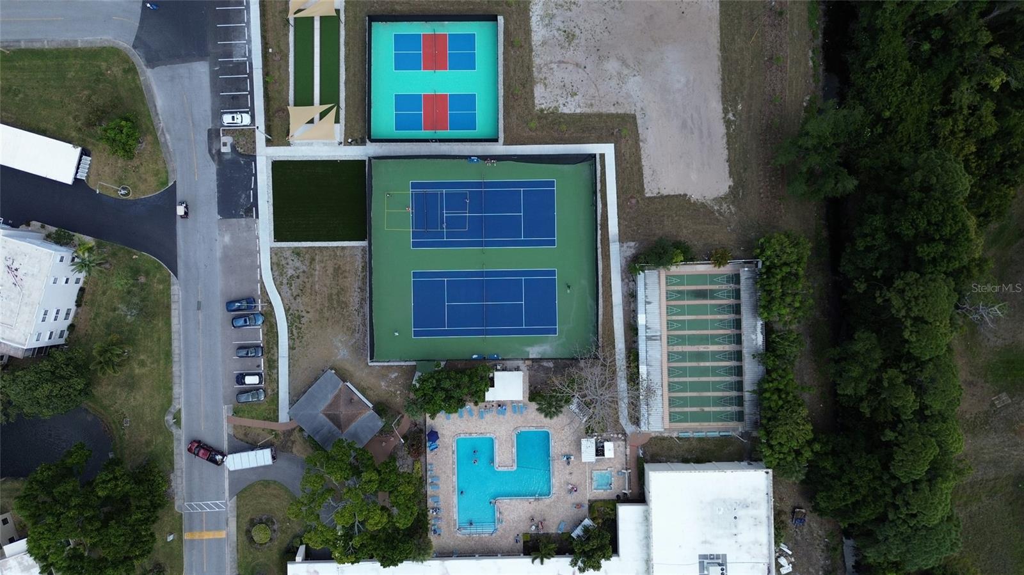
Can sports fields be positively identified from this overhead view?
Yes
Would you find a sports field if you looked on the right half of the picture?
No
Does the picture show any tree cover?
Yes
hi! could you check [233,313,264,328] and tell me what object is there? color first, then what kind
blue car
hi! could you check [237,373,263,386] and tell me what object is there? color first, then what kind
white vehicle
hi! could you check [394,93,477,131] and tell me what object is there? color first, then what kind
blue sports court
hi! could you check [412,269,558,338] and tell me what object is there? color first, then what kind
blue tennis court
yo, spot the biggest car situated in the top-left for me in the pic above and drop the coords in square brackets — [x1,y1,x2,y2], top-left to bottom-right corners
[222,112,252,127]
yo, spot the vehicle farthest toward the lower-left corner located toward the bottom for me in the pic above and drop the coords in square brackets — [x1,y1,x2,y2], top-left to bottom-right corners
[187,440,227,465]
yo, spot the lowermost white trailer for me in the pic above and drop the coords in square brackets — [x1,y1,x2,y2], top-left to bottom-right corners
[225,445,283,469]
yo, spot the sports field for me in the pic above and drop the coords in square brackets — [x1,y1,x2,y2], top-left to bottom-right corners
[273,159,366,242]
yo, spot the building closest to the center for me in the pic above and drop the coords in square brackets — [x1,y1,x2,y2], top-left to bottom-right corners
[485,370,523,405]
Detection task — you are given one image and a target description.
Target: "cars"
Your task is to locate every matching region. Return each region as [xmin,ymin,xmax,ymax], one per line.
[236,389,266,404]
[222,112,252,127]
[227,298,257,312]
[233,313,264,328]
[236,345,264,358]
[237,373,263,386]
